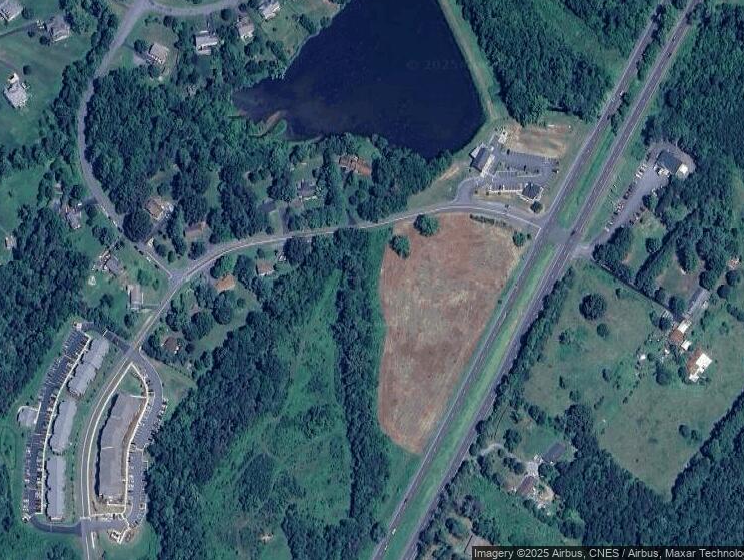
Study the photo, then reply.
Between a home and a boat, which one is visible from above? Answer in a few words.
home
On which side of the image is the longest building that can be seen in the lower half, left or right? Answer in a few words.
left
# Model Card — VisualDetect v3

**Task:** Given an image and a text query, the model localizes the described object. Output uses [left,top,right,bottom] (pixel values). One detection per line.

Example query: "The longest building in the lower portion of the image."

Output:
[97,395,142,501]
